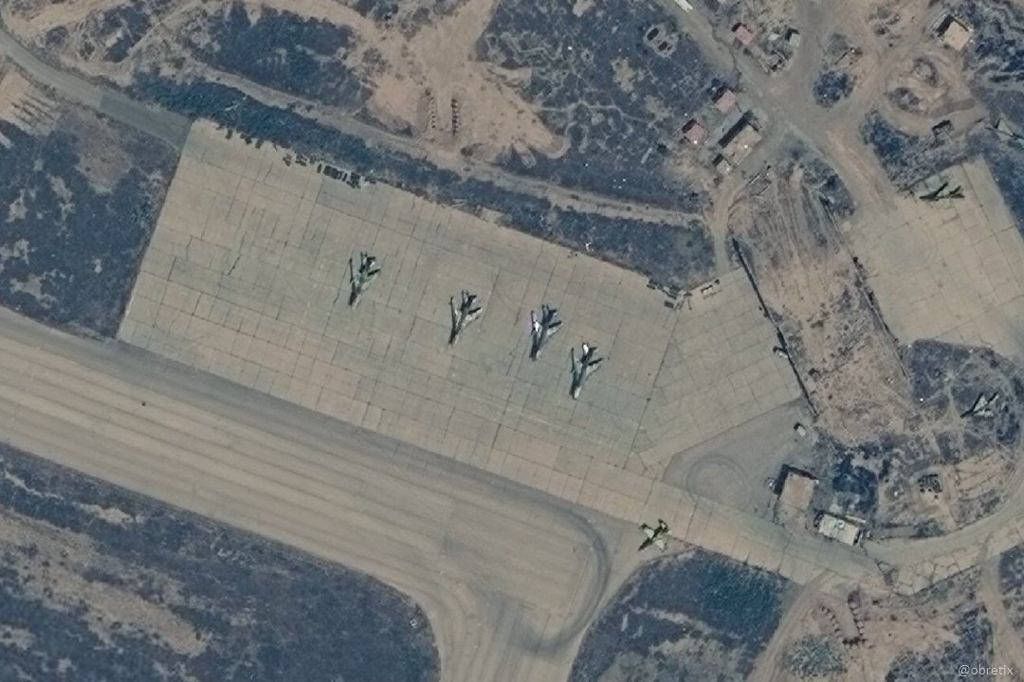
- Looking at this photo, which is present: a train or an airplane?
airplane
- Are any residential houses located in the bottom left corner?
No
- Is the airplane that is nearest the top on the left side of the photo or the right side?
right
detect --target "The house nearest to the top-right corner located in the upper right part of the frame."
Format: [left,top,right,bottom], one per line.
[945,23,970,47]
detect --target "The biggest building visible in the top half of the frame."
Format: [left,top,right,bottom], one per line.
[724,125,762,162]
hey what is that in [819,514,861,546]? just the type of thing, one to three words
building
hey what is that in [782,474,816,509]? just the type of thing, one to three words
building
